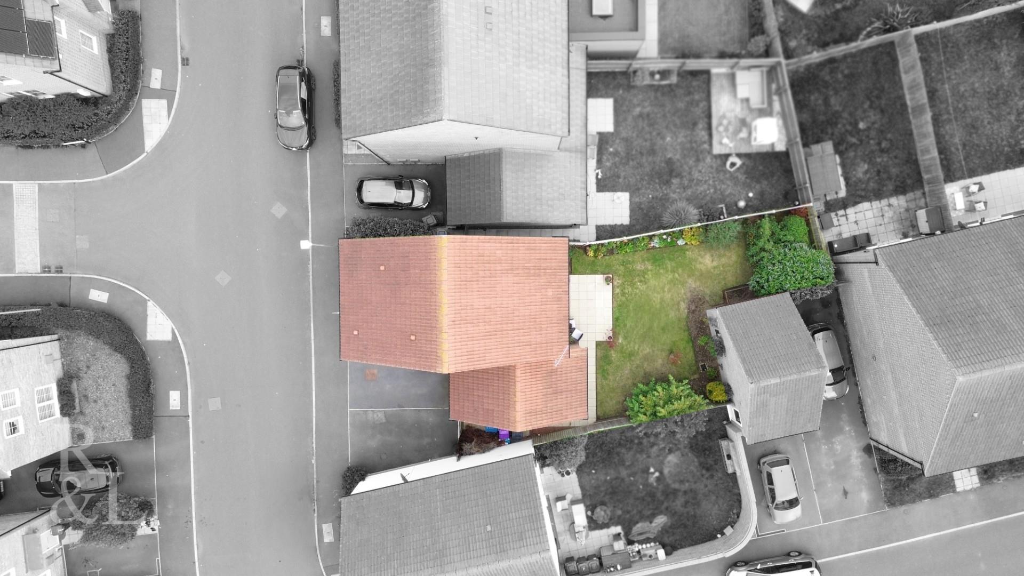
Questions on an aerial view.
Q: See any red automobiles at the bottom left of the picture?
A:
No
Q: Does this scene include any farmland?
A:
No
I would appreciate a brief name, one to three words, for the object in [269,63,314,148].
car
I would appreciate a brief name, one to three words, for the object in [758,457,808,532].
car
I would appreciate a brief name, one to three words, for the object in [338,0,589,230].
house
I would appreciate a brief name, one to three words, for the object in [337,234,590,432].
house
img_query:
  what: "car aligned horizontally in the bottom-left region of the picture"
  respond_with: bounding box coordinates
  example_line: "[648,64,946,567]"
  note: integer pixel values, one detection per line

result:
[32,457,122,504]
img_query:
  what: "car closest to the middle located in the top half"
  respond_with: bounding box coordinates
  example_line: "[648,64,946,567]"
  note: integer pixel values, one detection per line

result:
[353,171,430,212]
